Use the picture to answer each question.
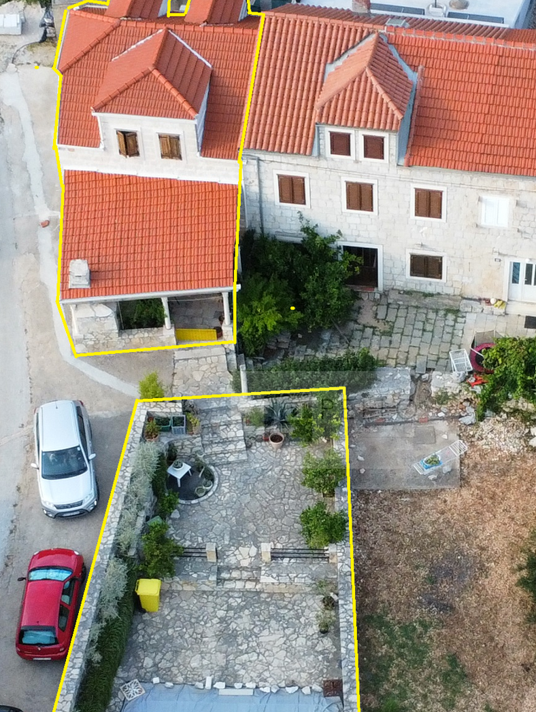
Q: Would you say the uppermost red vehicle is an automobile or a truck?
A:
automobile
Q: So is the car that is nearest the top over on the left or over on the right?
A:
left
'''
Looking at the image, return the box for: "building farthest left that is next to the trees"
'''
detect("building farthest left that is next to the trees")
[54,0,279,347]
